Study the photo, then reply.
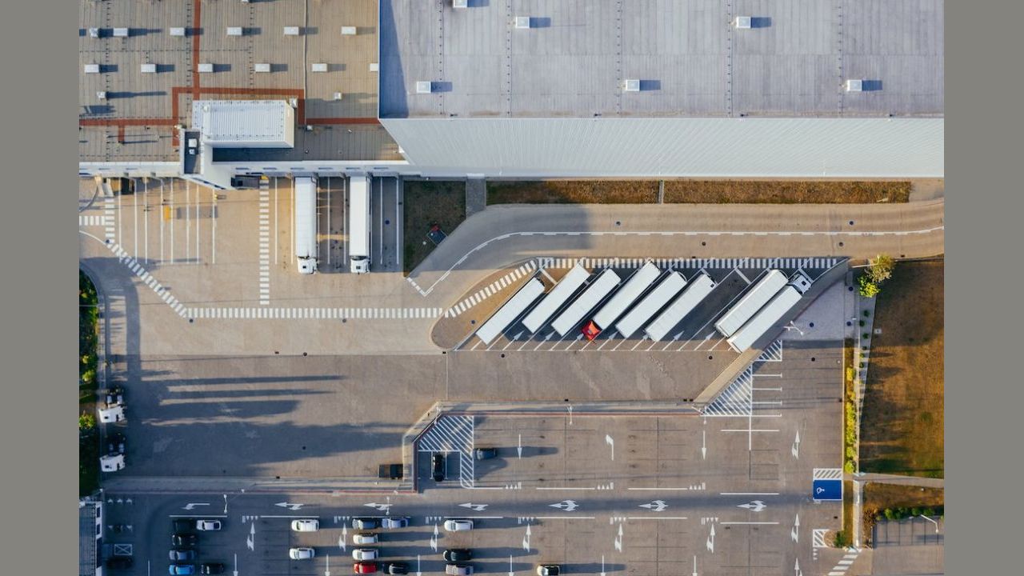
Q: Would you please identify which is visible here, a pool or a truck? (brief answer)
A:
truck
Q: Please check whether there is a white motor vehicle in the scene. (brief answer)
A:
Yes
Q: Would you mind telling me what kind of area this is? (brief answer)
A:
industrial area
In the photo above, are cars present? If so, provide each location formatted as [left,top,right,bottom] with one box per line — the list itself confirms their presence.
[383,516,408,529]
[475,447,497,460]
[445,547,472,561]
[432,452,445,481]
[385,561,409,575]
[354,517,379,530]
[174,518,199,532]
[172,533,198,546]
[537,563,559,576]
[198,518,222,531]
[203,561,226,575]
[172,547,197,561]
[354,546,379,560]
[171,562,196,576]
[354,532,378,546]
[292,518,320,532]
[445,518,473,532]
[355,561,378,575]
[291,546,316,560]
[447,562,473,576]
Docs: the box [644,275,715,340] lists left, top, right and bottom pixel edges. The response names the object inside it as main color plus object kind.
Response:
white trailer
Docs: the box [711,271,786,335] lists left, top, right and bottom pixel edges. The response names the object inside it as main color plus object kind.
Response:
white trailer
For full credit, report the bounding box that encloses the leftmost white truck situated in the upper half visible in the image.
[296,178,318,275]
